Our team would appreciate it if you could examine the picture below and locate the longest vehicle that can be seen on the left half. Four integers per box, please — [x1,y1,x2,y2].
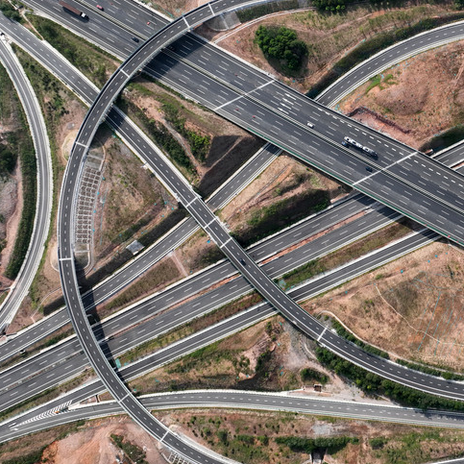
[61,2,88,19]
